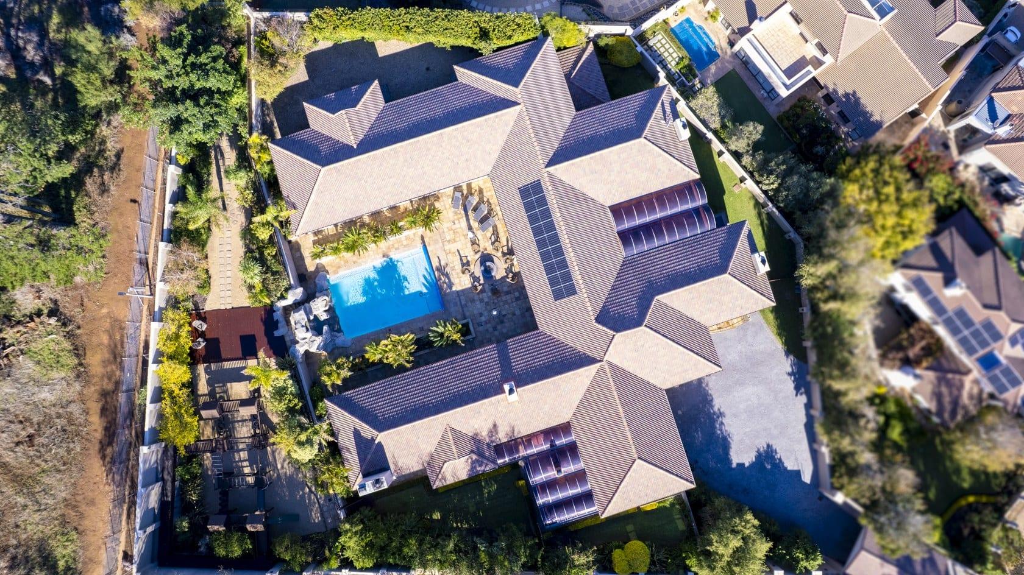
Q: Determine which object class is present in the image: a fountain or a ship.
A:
fountain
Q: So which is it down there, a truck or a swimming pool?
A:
swimming pool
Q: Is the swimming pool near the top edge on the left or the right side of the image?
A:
right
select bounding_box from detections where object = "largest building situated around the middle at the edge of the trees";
[267,36,776,529]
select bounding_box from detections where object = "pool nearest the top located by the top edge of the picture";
[668,14,722,74]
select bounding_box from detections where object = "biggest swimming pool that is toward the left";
[328,242,448,340]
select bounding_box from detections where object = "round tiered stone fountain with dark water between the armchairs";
[474,255,502,283]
